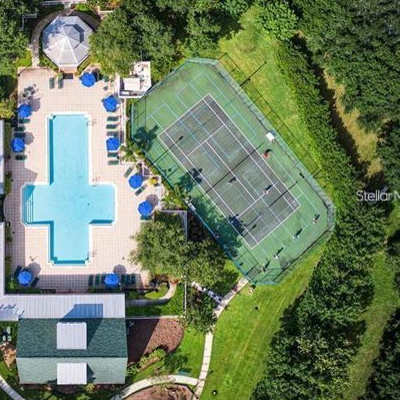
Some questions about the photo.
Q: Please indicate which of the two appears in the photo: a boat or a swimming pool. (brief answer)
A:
swimming pool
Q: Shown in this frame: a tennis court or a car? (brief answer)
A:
tennis court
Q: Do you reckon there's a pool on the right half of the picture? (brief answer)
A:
No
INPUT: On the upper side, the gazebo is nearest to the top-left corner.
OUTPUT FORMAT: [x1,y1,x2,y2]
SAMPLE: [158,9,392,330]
[43,17,93,68]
